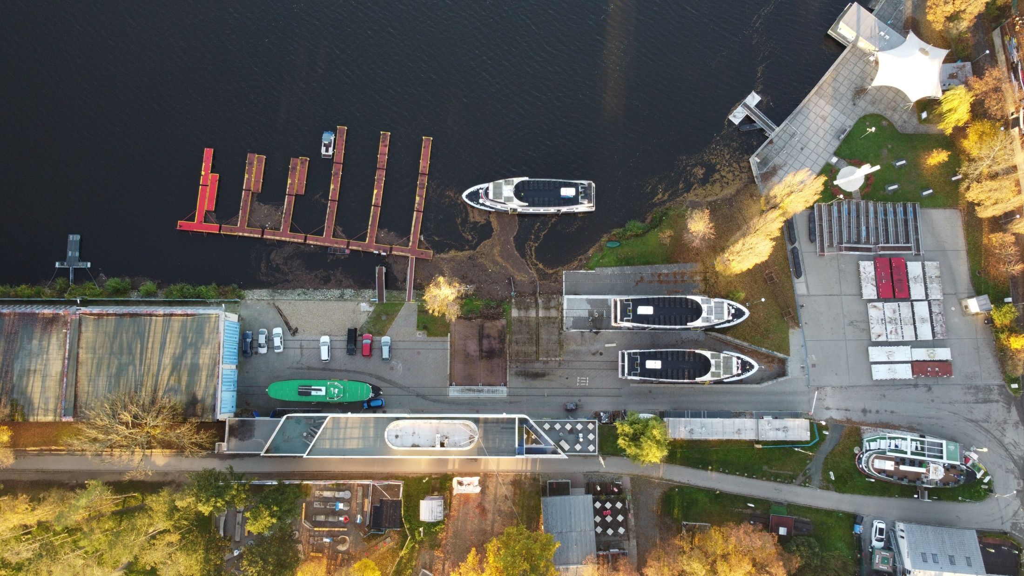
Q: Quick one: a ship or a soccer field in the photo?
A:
ship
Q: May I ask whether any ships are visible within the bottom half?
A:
Yes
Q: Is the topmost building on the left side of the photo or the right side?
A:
right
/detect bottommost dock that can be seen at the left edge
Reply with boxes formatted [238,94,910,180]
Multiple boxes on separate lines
[46,234,98,289]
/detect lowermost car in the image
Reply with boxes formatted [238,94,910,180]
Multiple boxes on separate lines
[870,518,887,549]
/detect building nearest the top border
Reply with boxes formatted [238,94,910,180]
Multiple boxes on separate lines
[824,2,906,62]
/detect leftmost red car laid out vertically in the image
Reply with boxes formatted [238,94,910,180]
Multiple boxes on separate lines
[361,333,373,358]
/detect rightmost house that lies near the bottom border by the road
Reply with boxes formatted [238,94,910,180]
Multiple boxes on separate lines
[886,522,987,576]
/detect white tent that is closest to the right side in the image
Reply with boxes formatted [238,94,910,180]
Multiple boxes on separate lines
[848,30,950,121]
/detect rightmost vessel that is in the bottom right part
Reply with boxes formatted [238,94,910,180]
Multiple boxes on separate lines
[849,433,975,501]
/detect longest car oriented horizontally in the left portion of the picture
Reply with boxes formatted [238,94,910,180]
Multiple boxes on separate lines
[363,398,386,410]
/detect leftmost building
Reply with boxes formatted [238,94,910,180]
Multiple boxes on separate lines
[0,306,252,421]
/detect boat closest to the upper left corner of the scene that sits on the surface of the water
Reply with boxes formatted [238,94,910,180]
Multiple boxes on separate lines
[322,132,335,160]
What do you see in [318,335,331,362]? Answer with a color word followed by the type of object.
white vehicle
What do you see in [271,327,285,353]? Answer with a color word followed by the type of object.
white car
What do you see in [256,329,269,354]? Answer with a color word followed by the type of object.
white vehicle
